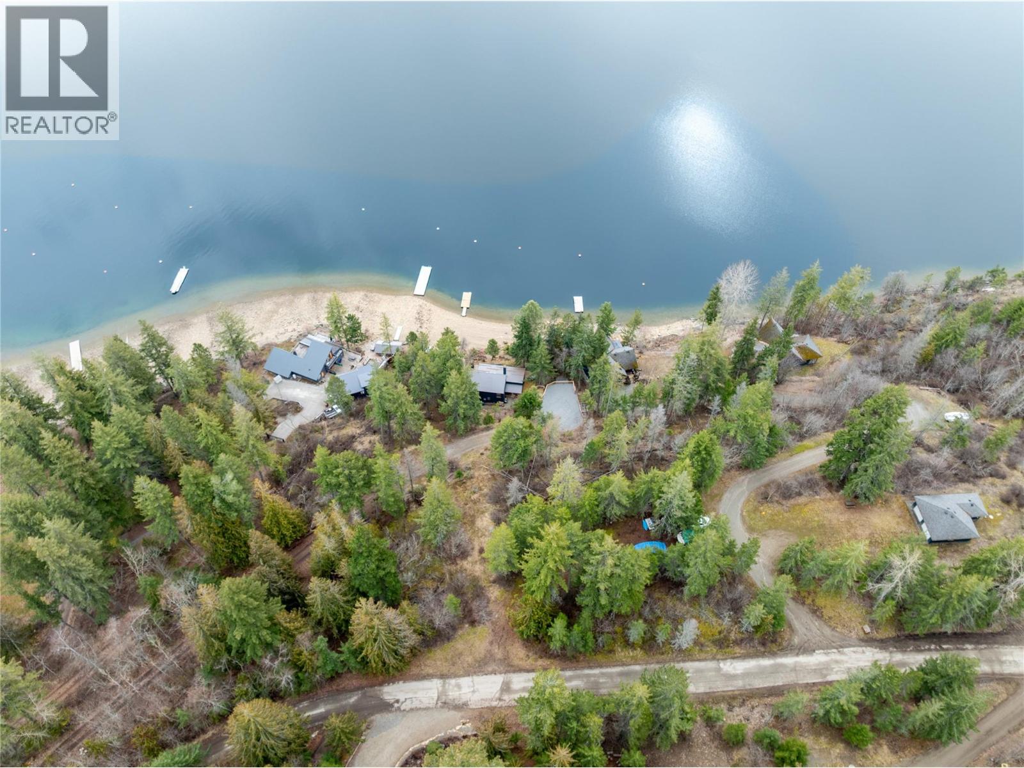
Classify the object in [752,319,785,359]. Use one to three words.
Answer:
house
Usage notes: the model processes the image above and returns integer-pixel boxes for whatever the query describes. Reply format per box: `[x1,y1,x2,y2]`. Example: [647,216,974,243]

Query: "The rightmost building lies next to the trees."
[907,493,988,548]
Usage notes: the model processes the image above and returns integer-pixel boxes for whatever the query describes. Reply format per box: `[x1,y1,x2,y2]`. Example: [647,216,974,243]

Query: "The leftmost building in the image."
[264,337,332,387]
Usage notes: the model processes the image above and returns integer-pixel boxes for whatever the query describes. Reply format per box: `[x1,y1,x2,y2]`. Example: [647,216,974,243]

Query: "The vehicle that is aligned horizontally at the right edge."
[944,409,974,422]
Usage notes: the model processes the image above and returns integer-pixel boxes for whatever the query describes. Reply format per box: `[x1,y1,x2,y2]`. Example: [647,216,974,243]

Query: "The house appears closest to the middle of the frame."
[472,364,525,406]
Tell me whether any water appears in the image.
Yes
